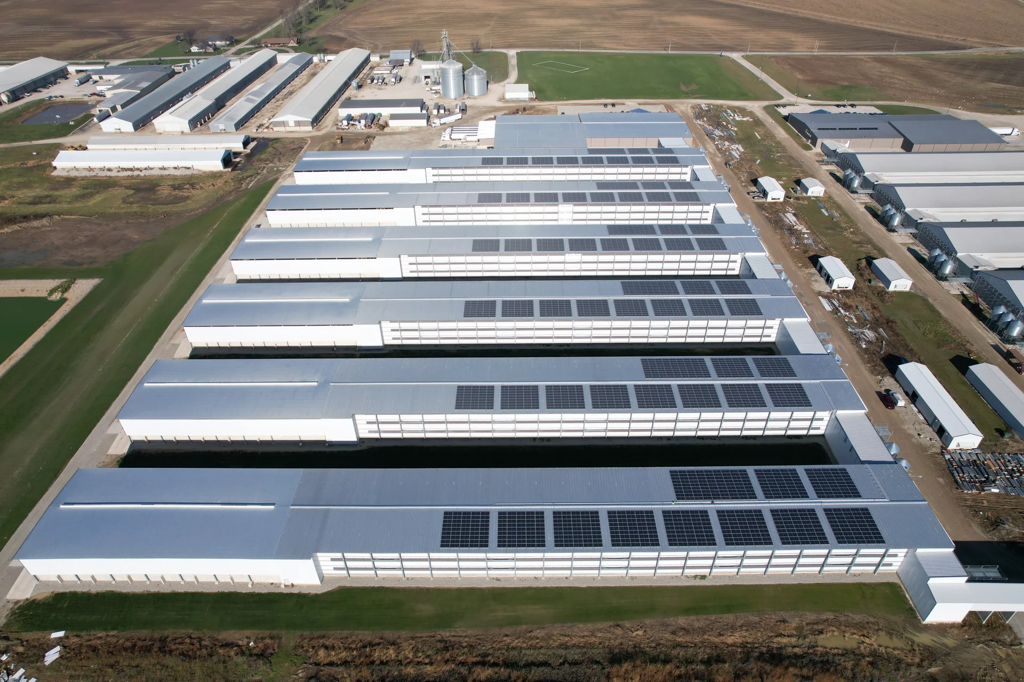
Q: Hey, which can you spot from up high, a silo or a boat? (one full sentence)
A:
This aerial view contains a silo.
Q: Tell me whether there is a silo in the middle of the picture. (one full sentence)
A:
No, the scene shows no silo in the middle of the picture.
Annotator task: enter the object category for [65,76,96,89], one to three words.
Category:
vehicle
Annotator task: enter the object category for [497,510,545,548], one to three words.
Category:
solar array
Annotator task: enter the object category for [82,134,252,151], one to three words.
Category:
shed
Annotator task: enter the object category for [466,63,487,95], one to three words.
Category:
silo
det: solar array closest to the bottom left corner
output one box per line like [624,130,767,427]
[440,510,489,548]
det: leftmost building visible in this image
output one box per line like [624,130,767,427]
[0,56,67,104]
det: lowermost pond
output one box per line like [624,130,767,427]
[0,297,66,366]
